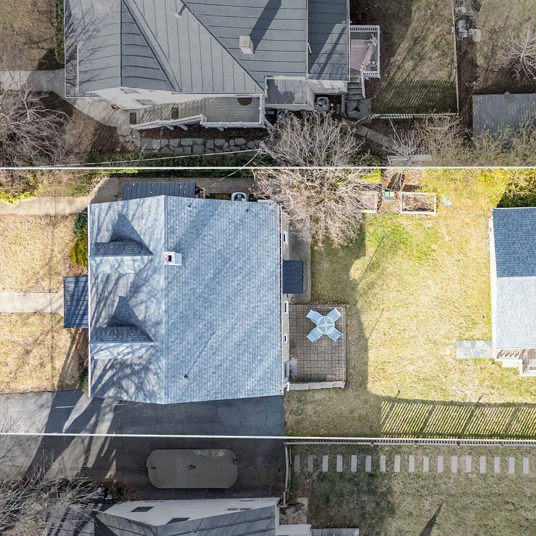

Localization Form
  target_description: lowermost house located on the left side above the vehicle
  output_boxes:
[62,181,309,405]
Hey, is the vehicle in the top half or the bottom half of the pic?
bottom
